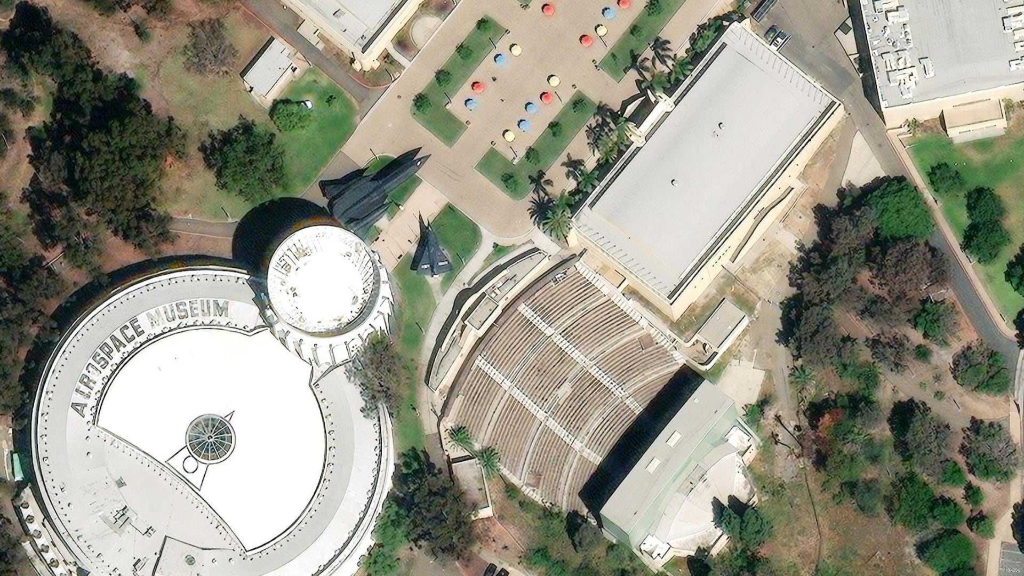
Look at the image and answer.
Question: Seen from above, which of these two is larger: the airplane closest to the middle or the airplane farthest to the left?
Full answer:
The airplane farthest to the left takes up more space than the airplane closest to the middle.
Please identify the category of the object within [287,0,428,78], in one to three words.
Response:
building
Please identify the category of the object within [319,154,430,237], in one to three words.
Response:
airplane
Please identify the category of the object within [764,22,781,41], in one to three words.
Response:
car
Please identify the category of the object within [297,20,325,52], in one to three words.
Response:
shed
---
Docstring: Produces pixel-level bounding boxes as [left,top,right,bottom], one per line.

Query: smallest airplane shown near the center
[418,214,454,277]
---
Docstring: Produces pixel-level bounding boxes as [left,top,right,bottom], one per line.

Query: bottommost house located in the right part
[600,380,763,576]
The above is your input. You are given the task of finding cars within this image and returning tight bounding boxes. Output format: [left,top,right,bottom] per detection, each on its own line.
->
[484,561,497,576]
[497,565,510,576]
[769,30,788,50]
[764,22,781,41]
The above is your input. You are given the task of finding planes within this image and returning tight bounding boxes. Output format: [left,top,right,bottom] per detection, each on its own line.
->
[319,154,430,237]
[418,214,454,277]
